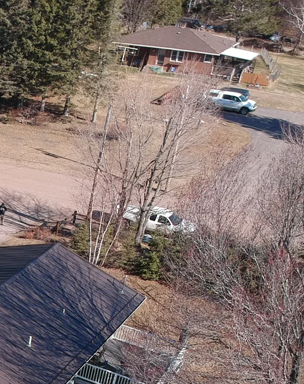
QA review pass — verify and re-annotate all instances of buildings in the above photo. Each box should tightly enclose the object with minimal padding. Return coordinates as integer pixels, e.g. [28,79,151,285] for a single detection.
[112,26,268,86]
[0,241,190,384]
